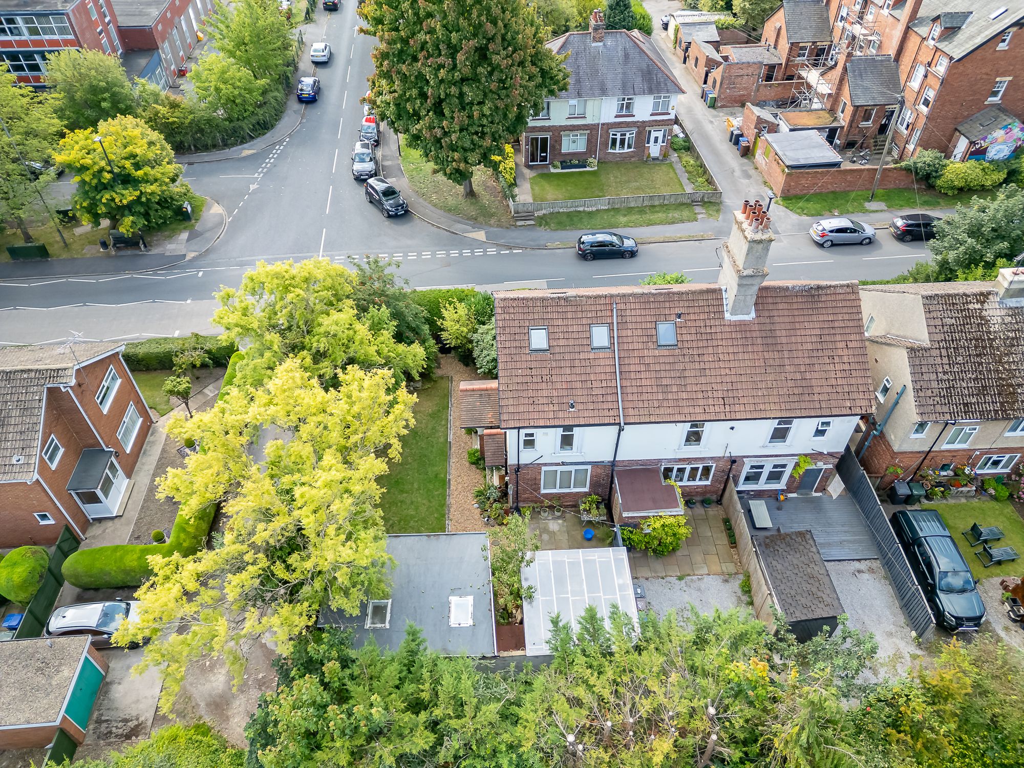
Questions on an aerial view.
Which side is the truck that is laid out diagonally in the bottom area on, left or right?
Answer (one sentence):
The truck that is laid out diagonally in the bottom area appears in the right half of the scene.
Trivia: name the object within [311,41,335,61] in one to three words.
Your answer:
car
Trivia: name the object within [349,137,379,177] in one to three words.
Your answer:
car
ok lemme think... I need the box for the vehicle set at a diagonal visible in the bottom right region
[886,502,996,630]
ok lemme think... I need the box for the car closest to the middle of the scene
[573,229,639,260]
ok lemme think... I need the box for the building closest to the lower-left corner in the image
[0,635,107,749]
